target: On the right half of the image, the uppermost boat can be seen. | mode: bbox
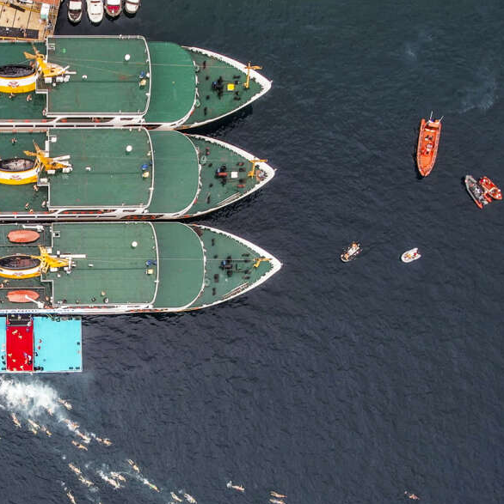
[416,114,438,175]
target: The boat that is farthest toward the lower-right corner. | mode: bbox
[402,247,421,261]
